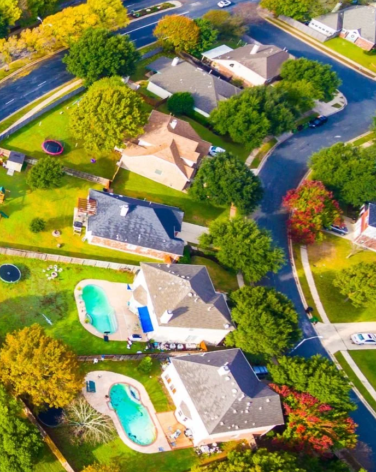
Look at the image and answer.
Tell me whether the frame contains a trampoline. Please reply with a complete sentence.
Yes, I can see a trampoline in this picture.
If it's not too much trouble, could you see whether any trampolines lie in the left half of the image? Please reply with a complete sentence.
Yes, a trampoline shows up in the left half of the image.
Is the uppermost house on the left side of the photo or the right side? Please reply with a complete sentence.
You can find the uppermost house on the right side of the picture.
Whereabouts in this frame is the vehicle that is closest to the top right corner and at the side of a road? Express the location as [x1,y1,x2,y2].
[309,114,329,126]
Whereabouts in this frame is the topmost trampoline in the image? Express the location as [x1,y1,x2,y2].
[42,136,62,155]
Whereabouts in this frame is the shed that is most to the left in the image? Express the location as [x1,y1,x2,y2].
[5,152,26,175]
